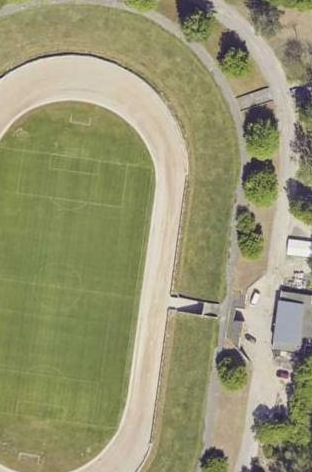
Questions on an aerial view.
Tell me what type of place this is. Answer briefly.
sports ground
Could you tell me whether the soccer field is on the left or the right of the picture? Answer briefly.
left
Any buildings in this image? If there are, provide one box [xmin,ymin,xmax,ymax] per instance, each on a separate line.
[271,290,312,362]
[286,237,312,257]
